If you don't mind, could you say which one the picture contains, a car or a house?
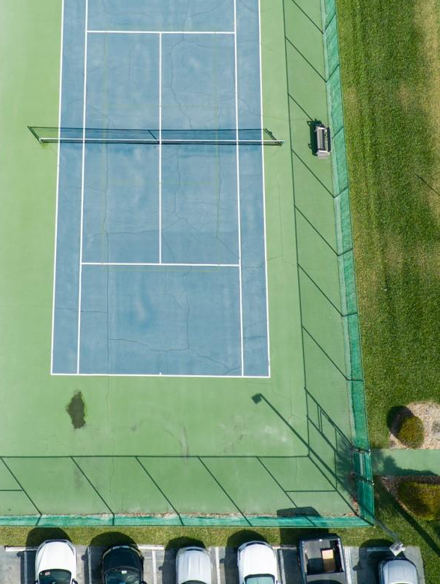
car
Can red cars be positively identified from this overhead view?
No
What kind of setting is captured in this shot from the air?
sports ground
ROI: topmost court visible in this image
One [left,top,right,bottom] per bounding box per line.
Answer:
[0,0,357,516]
